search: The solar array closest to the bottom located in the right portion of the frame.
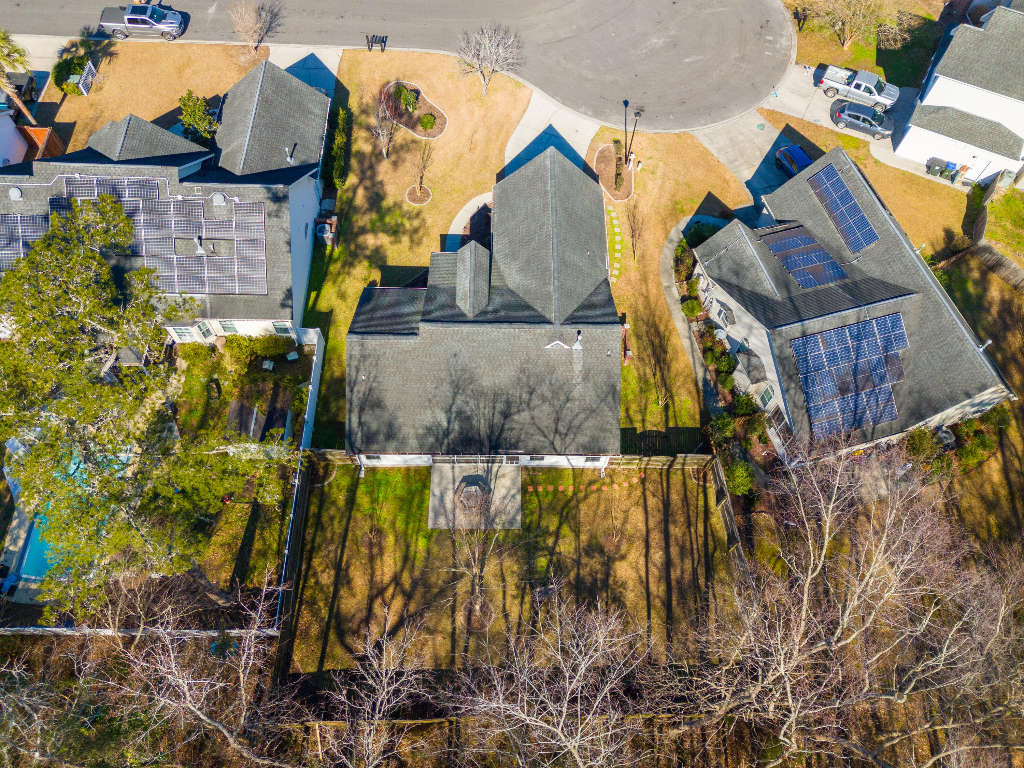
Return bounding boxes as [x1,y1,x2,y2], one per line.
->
[790,311,912,443]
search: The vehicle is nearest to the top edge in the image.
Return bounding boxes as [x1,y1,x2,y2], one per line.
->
[98,0,190,40]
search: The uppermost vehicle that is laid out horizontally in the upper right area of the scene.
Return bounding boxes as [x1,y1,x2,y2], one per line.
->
[815,59,909,111]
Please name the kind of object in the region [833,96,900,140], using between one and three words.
car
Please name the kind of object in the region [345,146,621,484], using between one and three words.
house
